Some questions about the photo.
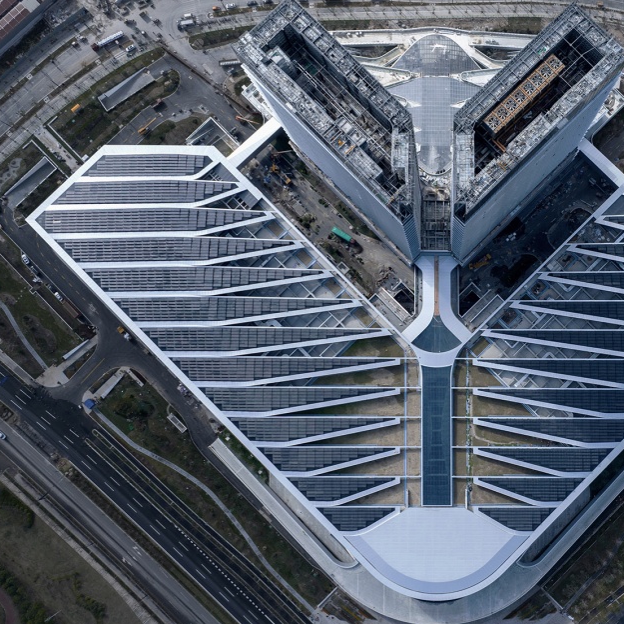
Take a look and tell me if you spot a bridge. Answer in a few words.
Yes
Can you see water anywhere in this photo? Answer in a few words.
No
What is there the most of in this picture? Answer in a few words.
buildings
